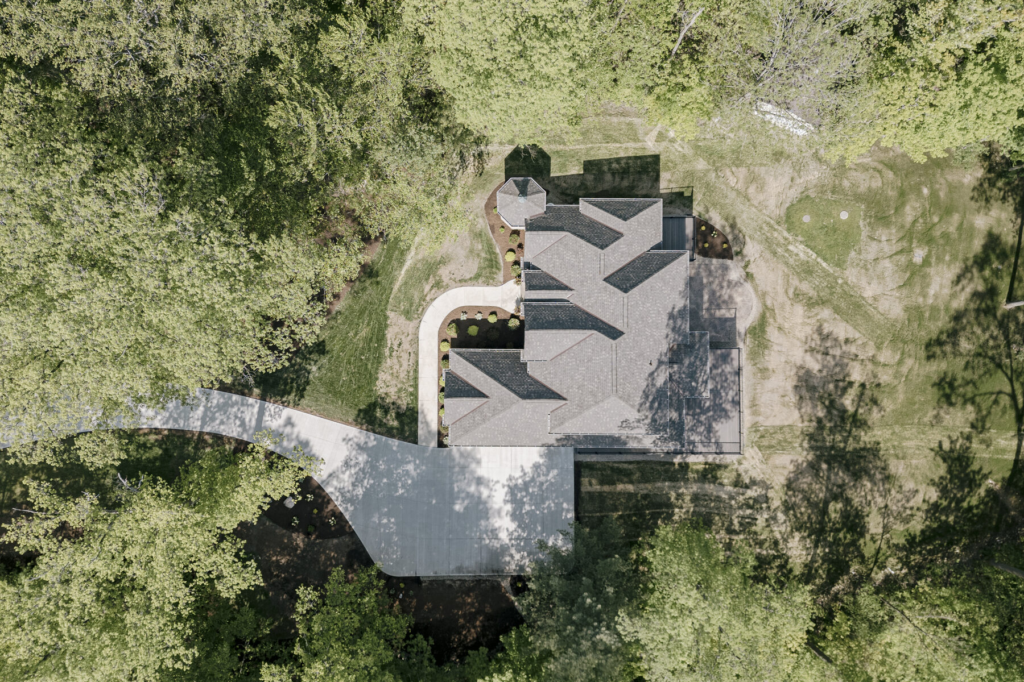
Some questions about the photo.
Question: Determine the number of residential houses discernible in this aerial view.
one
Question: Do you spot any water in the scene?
No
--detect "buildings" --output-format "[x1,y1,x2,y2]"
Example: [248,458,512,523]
[443,177,710,447]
